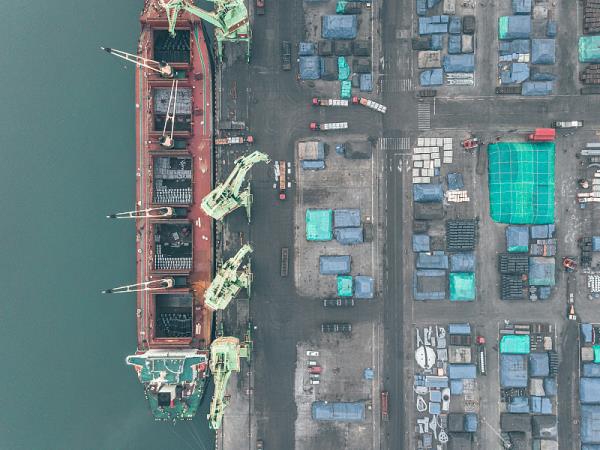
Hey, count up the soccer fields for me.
none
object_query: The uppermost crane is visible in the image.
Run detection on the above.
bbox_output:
[162,0,257,58]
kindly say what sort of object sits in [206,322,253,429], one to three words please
crane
